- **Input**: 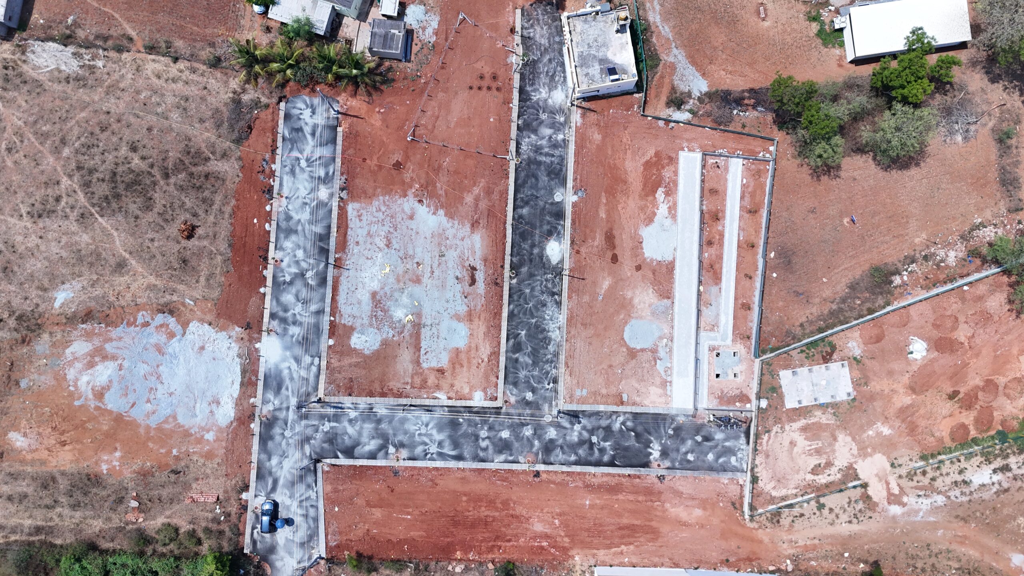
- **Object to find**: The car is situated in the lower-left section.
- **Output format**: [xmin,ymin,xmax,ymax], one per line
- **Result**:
[257,498,278,535]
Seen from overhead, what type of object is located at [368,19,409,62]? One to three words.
shed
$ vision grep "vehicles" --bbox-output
[253,0,270,14]
[257,498,278,535]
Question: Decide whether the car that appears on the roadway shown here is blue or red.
blue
